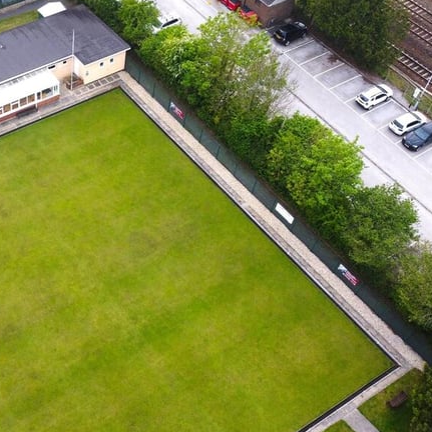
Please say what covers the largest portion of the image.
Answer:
grass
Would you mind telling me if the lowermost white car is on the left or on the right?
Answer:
right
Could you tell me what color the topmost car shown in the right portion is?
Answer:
black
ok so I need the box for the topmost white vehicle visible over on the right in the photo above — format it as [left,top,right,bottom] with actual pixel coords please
[356,82,397,109]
